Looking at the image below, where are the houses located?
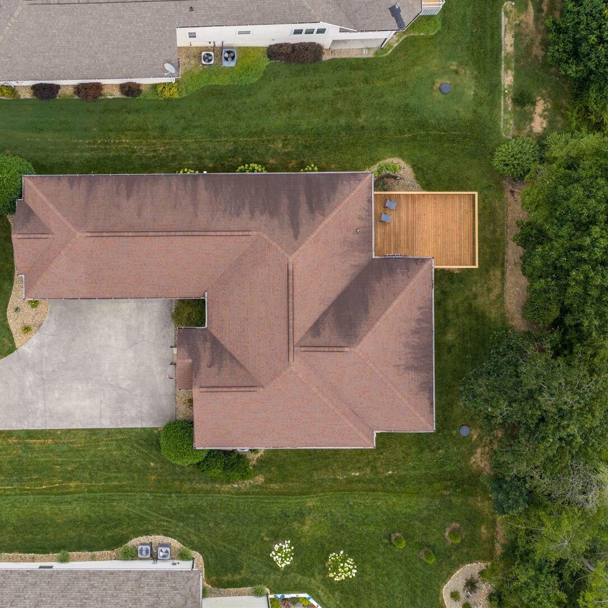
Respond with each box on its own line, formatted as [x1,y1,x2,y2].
[0,0,424,90]
[0,544,272,608]
[11,170,437,451]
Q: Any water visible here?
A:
No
